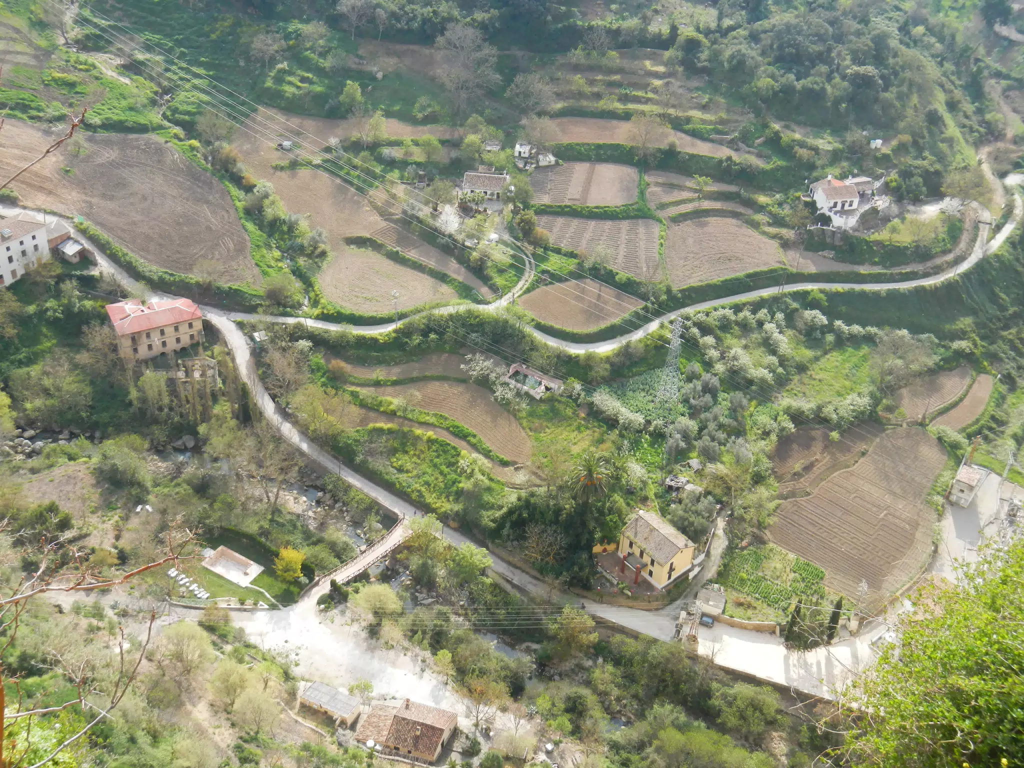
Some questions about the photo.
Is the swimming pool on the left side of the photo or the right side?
left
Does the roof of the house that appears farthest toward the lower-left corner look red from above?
No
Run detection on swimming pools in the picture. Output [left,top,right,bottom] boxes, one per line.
[202,544,266,588]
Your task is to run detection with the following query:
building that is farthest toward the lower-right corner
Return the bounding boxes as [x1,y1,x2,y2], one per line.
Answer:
[948,462,993,513]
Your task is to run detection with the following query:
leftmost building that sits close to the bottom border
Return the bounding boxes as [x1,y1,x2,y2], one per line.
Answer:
[297,677,363,737]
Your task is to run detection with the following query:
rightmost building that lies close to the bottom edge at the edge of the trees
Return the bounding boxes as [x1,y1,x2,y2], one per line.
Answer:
[354,697,457,767]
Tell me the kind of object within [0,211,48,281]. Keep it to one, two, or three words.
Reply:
house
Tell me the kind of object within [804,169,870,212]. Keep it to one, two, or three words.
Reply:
house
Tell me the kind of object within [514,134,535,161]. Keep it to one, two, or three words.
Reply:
shed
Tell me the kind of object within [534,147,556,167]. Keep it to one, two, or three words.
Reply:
shed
